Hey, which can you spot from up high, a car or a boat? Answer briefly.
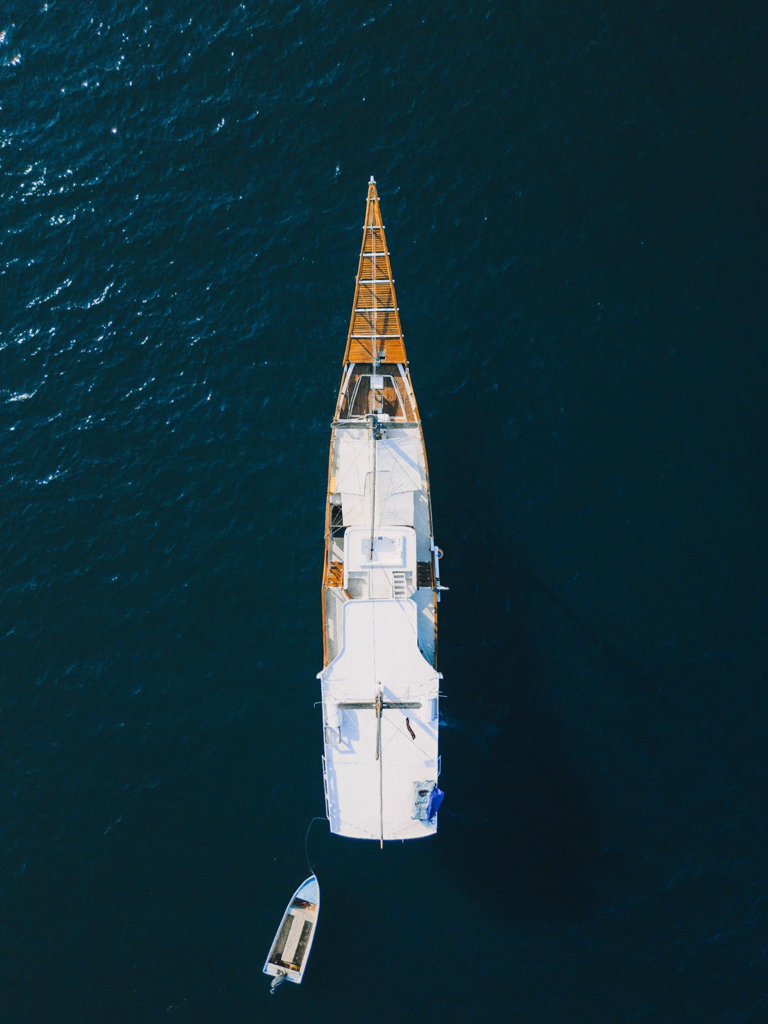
boat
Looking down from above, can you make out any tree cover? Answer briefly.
No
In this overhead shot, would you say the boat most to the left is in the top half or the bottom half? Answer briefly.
bottom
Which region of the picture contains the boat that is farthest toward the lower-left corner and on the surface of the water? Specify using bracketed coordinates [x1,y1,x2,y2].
[262,872,320,983]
